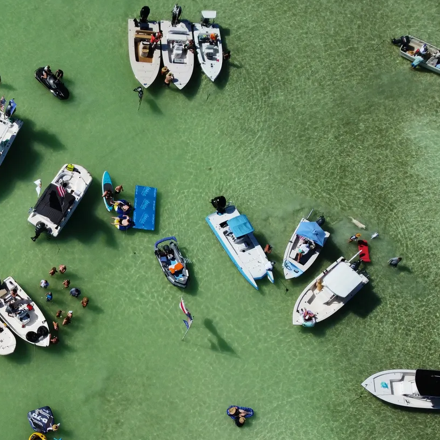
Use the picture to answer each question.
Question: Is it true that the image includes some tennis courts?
No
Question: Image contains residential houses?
No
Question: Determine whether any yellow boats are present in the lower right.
No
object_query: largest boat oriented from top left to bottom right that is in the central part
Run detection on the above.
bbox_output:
[205,194,283,291]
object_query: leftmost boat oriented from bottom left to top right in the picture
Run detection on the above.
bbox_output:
[29,165,90,239]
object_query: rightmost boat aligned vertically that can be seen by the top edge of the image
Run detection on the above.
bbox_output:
[195,10,222,82]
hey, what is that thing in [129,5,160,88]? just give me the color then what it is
white boat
